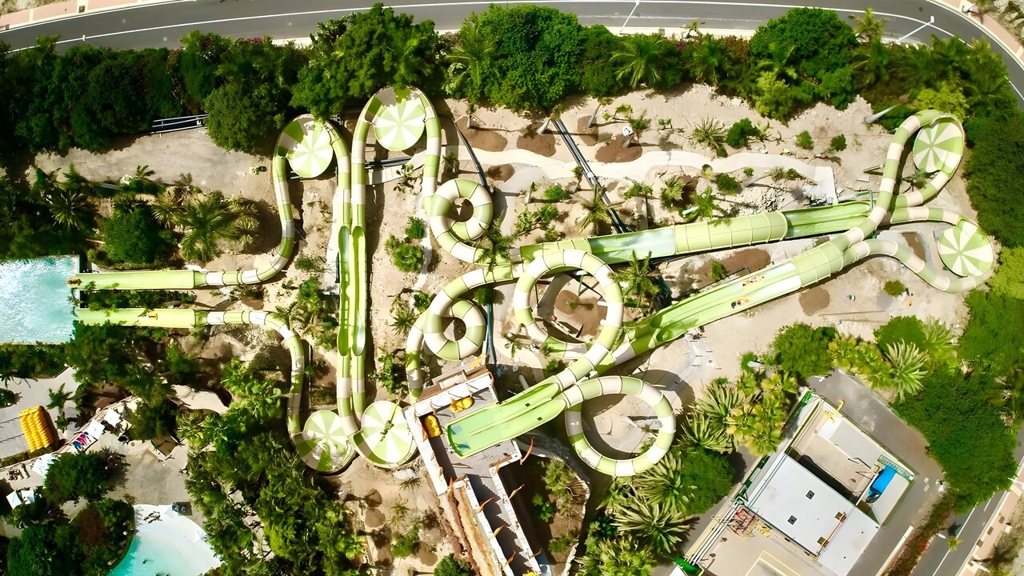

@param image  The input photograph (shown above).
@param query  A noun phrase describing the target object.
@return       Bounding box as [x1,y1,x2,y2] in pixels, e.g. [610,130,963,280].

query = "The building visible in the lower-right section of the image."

[741,449,880,576]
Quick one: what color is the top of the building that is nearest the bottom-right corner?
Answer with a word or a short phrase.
white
